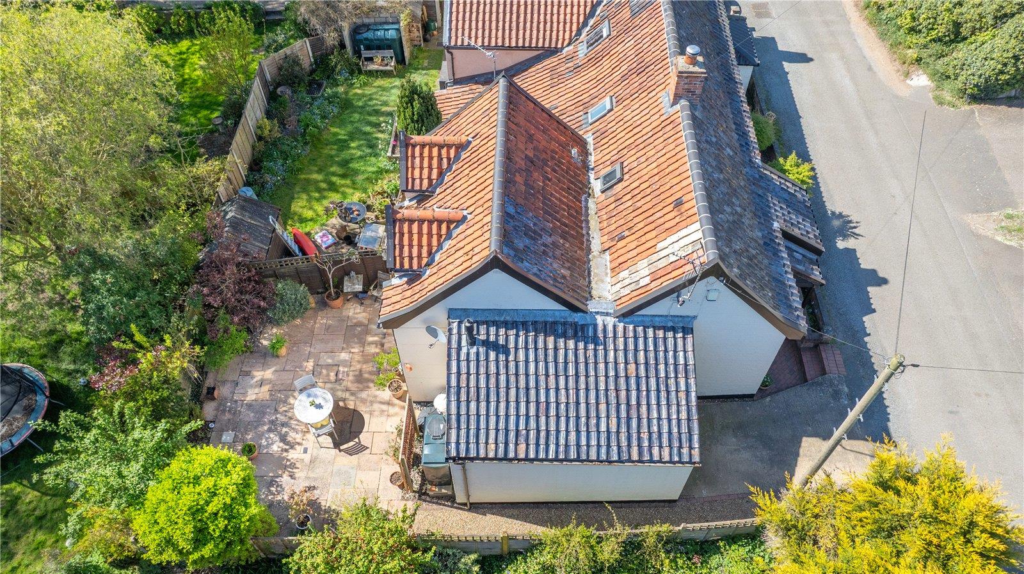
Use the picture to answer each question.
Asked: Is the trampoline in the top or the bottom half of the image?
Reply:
bottom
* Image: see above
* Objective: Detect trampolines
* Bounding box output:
[0,355,68,473]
